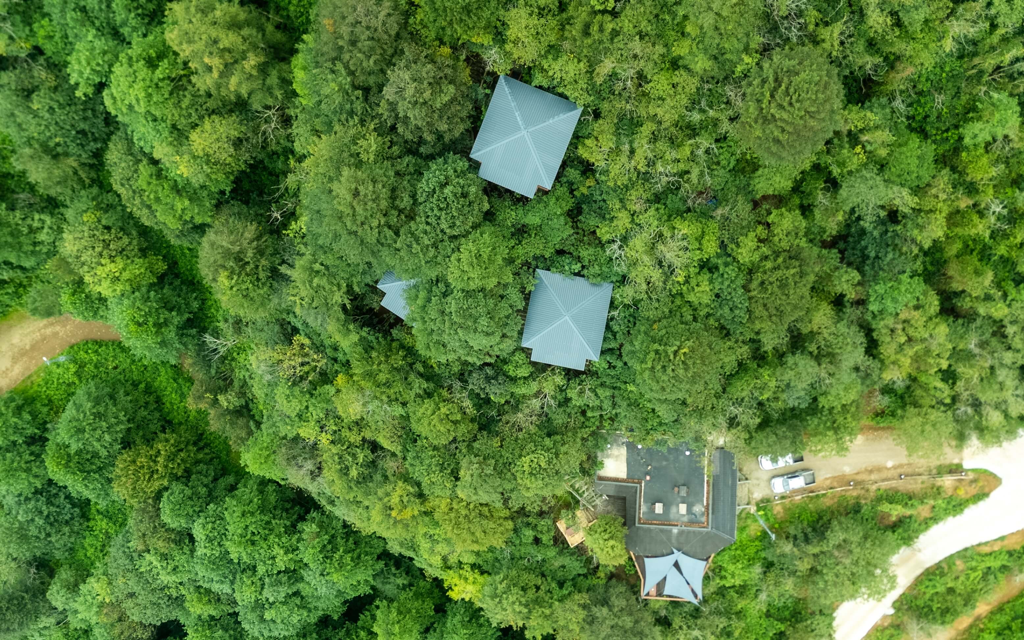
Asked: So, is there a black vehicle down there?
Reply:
No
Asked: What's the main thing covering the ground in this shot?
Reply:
trees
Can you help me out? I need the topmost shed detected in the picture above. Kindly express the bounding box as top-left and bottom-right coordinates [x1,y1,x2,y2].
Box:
[469,76,584,205]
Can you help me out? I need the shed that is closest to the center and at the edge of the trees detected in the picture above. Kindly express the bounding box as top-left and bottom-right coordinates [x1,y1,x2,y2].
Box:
[521,269,614,371]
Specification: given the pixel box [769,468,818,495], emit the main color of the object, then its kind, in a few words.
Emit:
white truck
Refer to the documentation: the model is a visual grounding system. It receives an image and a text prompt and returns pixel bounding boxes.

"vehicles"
[756,454,805,472]
[769,468,818,495]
